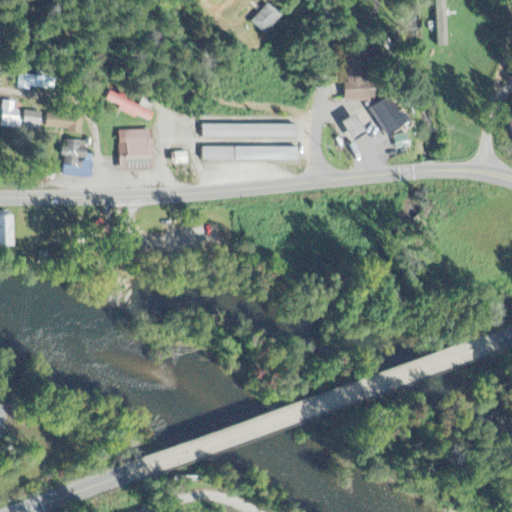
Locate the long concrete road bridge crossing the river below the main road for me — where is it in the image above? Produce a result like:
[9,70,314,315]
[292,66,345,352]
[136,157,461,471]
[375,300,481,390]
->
[140,326,512,476]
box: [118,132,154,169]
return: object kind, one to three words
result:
house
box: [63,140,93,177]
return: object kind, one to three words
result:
house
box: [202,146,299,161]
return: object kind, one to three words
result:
building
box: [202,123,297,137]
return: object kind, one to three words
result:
building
